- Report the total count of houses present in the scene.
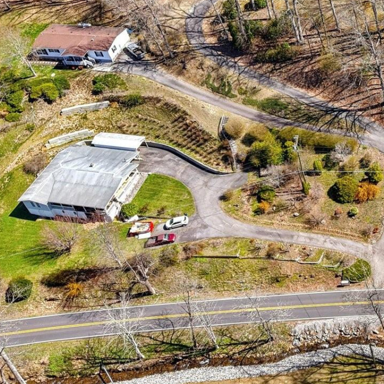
2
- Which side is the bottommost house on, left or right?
left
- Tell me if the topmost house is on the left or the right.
left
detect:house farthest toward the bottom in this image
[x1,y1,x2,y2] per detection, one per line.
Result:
[17,147,150,232]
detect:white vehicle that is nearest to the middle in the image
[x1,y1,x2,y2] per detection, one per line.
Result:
[164,214,188,229]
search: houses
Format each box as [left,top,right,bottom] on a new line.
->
[30,26,134,65]
[17,147,150,232]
